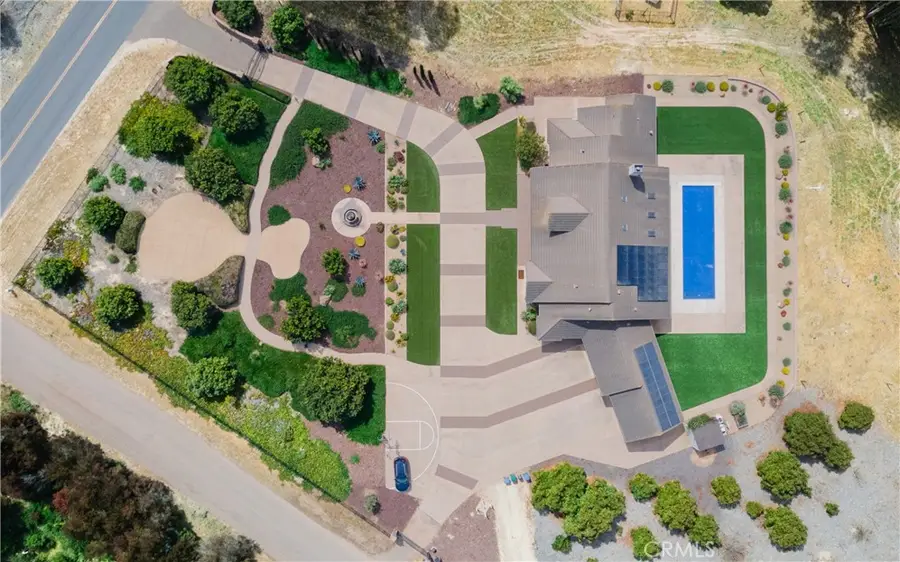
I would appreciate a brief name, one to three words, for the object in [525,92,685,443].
house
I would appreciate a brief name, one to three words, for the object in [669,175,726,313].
swimming pool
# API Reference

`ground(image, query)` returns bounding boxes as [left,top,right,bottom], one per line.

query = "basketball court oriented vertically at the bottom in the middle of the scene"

[387,380,439,493]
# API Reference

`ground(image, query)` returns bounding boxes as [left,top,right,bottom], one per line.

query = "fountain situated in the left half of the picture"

[341,208,360,226]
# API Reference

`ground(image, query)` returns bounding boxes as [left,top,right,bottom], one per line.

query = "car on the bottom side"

[394,456,410,492]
